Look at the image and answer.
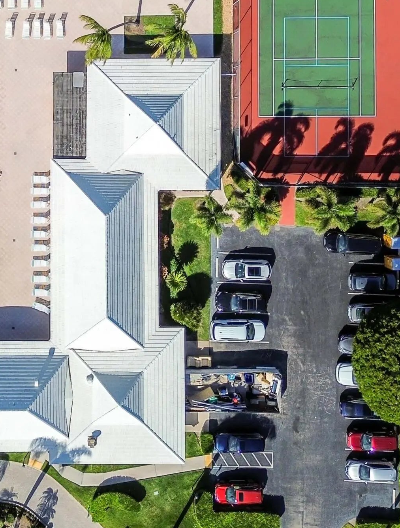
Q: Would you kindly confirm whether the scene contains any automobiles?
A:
Yes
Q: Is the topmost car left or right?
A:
right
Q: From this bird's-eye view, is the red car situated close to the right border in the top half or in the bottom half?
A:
bottom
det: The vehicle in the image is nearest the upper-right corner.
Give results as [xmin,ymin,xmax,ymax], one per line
[324,230,382,257]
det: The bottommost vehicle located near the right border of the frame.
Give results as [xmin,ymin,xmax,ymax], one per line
[345,457,395,484]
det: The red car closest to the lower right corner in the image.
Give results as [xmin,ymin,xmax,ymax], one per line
[346,428,397,455]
